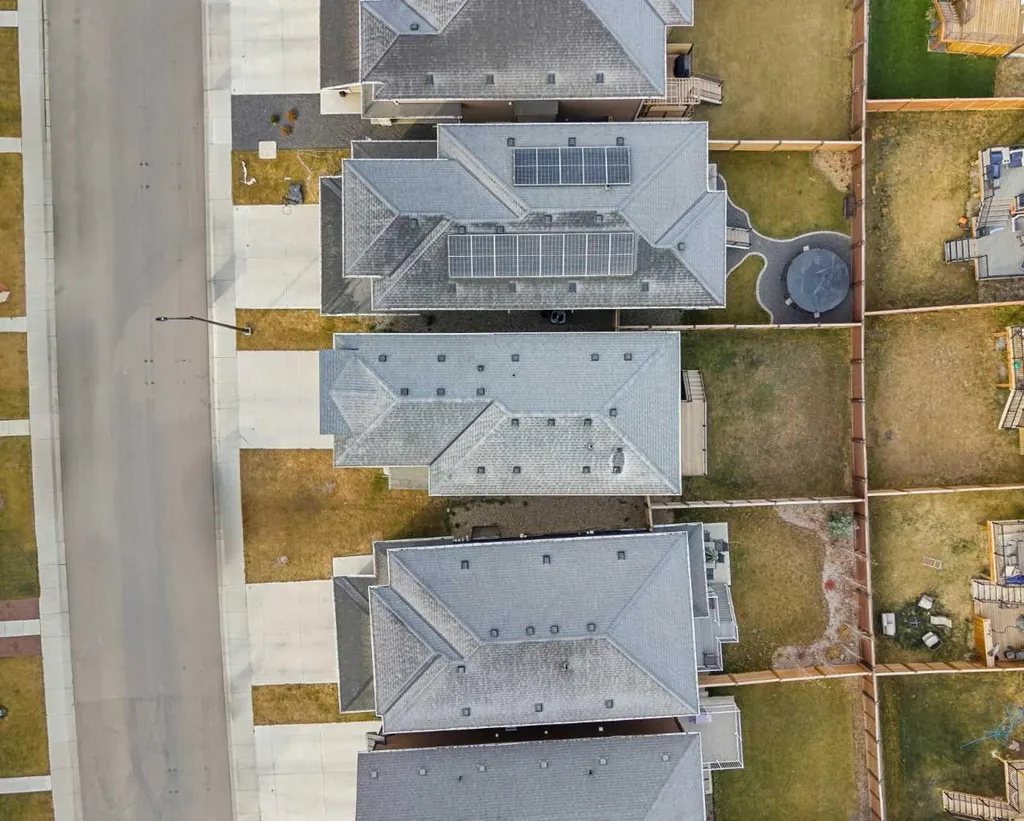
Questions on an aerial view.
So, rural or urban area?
urban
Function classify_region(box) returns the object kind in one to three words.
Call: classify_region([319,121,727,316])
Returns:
house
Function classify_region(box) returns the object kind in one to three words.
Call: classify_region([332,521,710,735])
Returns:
house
